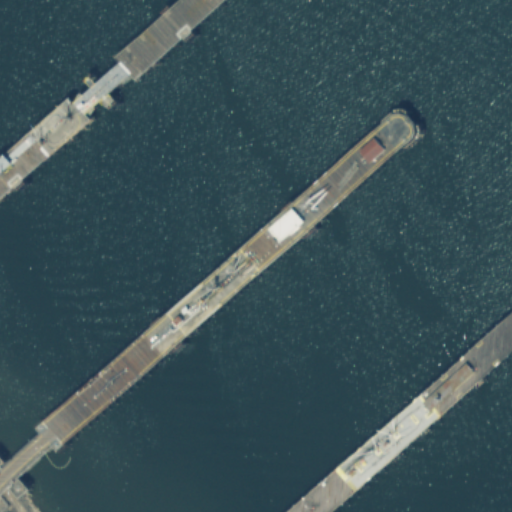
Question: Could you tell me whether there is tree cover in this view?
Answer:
No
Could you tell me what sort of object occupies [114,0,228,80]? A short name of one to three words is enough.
pier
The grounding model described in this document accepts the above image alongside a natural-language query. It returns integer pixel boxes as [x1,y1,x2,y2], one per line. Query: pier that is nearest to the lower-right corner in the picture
[286,312,512,512]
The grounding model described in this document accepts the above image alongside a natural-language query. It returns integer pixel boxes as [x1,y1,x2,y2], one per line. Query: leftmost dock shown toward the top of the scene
[0,98,90,204]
